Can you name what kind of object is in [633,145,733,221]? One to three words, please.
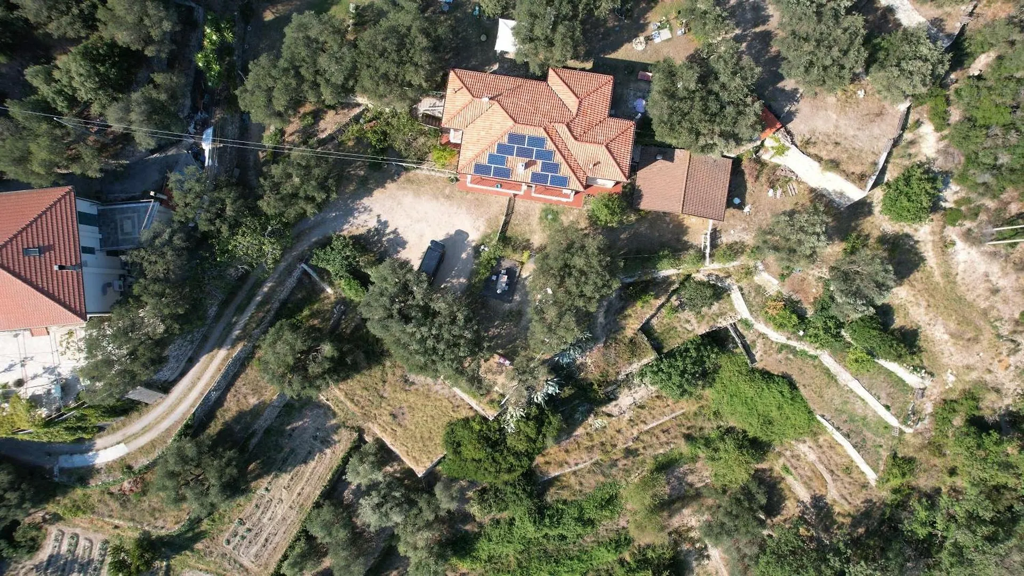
shed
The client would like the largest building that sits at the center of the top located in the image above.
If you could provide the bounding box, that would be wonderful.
[441,67,636,208]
